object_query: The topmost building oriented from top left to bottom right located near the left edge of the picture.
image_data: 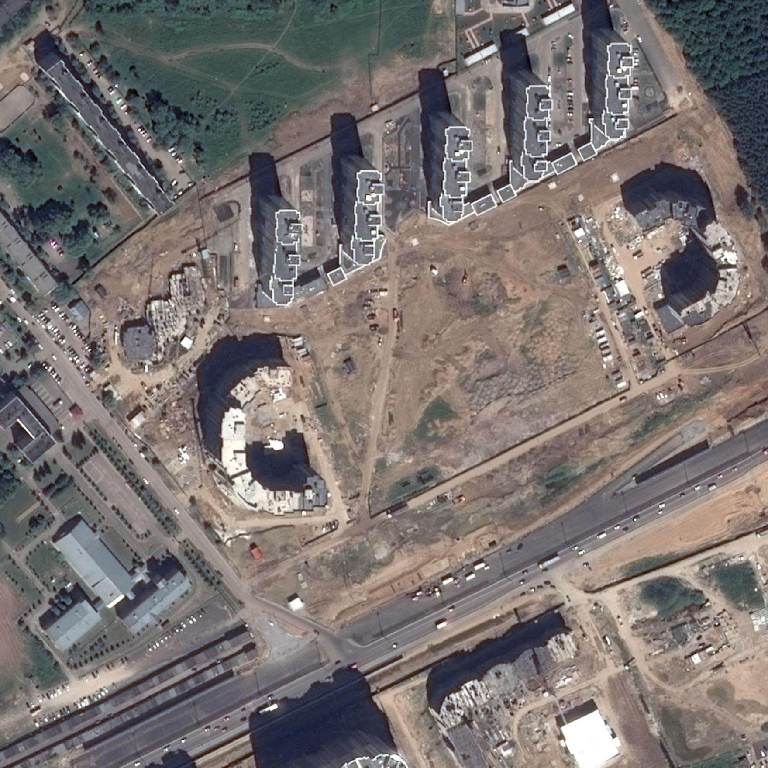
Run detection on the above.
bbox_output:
[37,52,174,216]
